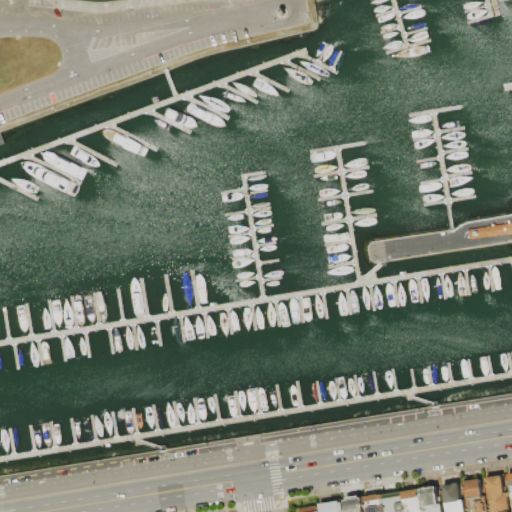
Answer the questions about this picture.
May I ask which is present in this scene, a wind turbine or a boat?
boat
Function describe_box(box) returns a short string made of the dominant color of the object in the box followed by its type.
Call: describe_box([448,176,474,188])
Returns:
white boat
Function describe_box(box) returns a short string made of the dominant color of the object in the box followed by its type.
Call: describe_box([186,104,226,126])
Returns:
white boat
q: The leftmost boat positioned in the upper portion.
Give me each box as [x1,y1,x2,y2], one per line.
[12,178,40,194]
